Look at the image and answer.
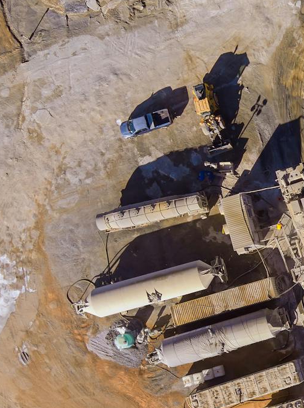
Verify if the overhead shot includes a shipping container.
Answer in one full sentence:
Yes, the image includes a shipping container.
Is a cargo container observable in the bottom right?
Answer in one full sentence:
Yes, a cargo container appears in the bottom right.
